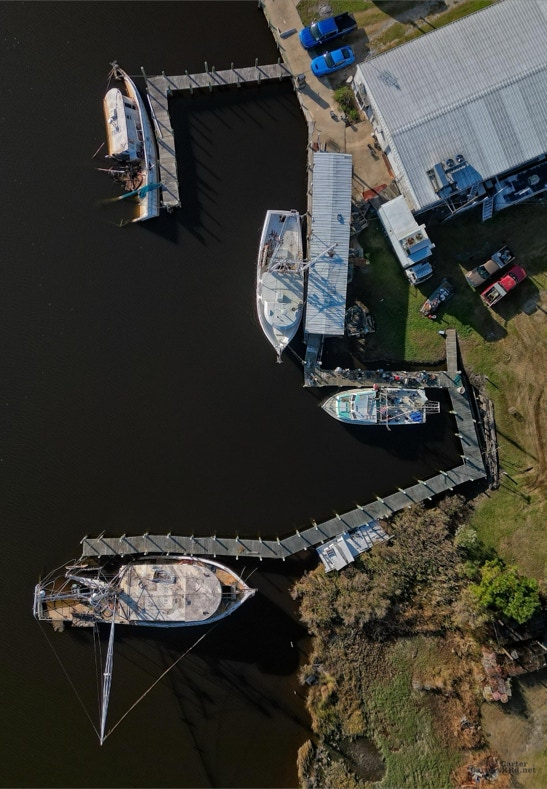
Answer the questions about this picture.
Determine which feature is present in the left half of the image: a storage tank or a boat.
boat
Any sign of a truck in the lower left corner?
No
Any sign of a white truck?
Yes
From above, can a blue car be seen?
Yes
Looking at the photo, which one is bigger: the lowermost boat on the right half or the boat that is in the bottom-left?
the boat that is in the bottom-left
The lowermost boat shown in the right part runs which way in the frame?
horizontally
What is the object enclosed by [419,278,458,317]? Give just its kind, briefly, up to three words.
trailer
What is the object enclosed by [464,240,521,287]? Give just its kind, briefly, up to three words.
truck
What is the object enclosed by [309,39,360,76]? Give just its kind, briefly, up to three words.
car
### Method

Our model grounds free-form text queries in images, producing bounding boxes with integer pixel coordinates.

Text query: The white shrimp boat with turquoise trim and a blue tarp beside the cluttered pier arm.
[320,384,447,436]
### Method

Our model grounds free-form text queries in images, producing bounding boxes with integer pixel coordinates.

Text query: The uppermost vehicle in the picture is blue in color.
[297,1,361,49]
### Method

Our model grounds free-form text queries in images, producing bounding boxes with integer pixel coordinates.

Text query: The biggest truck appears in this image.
[377,195,435,288]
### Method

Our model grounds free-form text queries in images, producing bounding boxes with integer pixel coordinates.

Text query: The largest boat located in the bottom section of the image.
[27,552,259,746]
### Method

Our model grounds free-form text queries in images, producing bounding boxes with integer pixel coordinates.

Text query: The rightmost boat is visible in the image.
[492,167,547,223]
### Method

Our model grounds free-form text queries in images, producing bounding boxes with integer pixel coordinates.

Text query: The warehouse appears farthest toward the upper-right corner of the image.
[351,0,547,217]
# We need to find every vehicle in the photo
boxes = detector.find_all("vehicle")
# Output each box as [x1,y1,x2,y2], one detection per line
[377,195,435,288]
[297,1,361,49]
[481,261,534,310]
[464,240,521,287]
[309,39,360,76]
